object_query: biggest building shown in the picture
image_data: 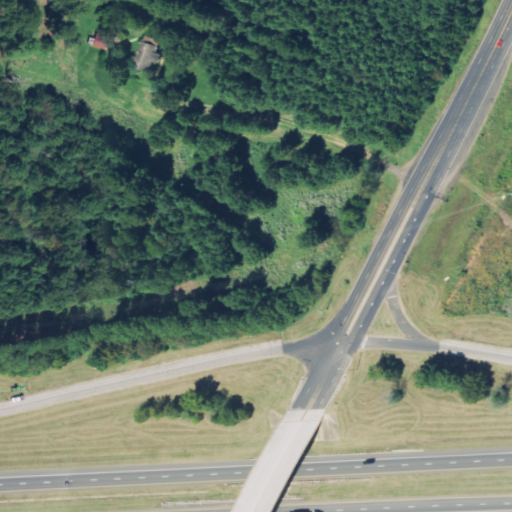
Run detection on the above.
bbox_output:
[131,40,162,74]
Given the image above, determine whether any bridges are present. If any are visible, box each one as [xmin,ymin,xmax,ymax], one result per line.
[229,408,326,512]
